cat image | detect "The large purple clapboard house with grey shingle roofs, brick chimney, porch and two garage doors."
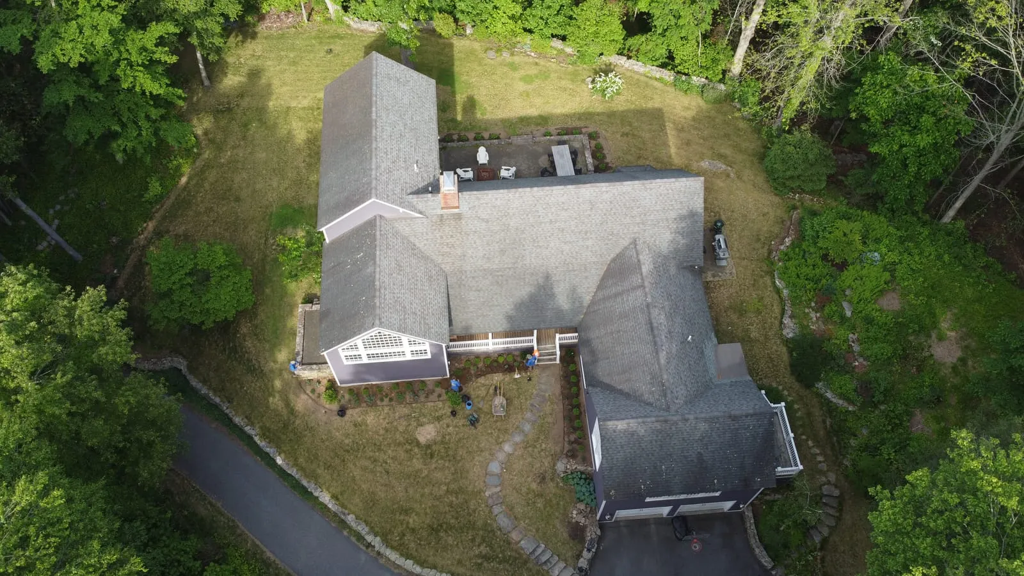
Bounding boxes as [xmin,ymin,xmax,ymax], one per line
[316,52,805,520]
